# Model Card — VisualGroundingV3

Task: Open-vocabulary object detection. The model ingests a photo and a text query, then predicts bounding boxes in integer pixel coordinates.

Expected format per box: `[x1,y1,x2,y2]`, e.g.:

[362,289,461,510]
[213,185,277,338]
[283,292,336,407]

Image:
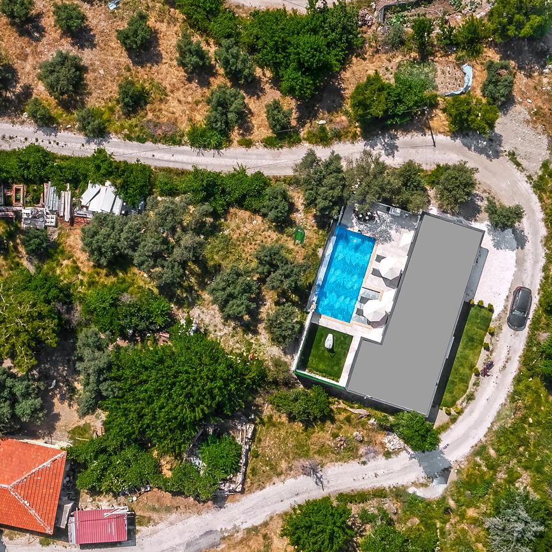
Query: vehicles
[506,286,532,330]
[482,360,497,377]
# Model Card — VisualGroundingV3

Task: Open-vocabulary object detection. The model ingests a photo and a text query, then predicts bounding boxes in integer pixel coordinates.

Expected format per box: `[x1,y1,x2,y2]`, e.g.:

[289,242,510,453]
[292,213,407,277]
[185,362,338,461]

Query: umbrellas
[364,299,386,322]
[379,256,402,279]
[399,229,416,249]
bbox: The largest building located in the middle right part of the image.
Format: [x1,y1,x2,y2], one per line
[346,211,484,417]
